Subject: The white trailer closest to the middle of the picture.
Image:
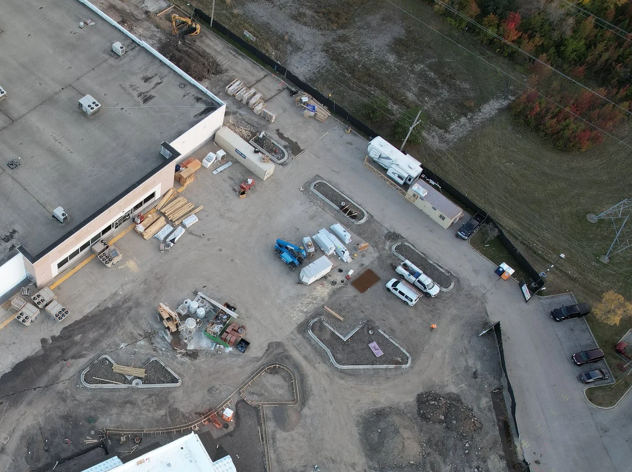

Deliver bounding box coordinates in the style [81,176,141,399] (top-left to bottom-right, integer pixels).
[293,255,334,287]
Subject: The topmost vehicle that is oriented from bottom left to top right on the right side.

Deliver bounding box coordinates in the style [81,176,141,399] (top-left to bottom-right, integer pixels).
[457,210,488,239]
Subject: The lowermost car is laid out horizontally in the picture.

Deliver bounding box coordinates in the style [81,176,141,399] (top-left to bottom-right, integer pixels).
[576,368,611,386]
